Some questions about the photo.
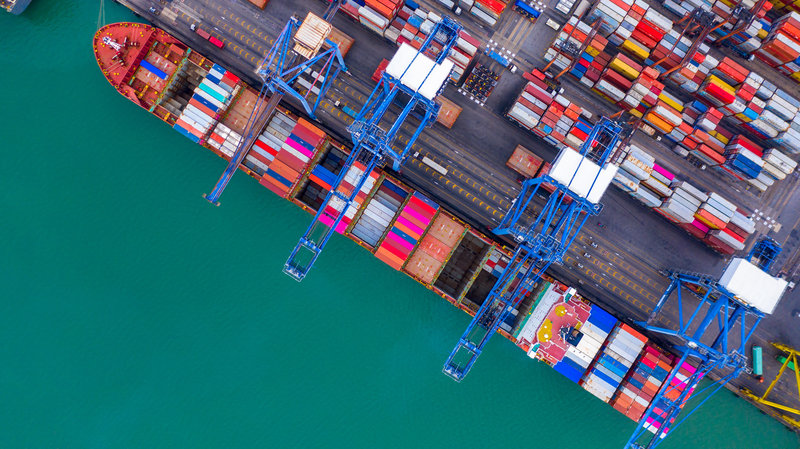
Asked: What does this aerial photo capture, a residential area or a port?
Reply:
port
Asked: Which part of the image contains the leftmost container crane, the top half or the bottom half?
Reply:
top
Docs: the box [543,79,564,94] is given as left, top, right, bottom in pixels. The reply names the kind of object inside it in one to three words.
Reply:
vehicle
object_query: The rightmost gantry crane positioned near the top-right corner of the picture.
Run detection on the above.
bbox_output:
[708,0,766,40]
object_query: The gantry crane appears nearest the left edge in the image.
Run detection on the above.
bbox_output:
[200,0,357,204]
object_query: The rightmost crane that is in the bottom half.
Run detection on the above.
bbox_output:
[736,337,800,425]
